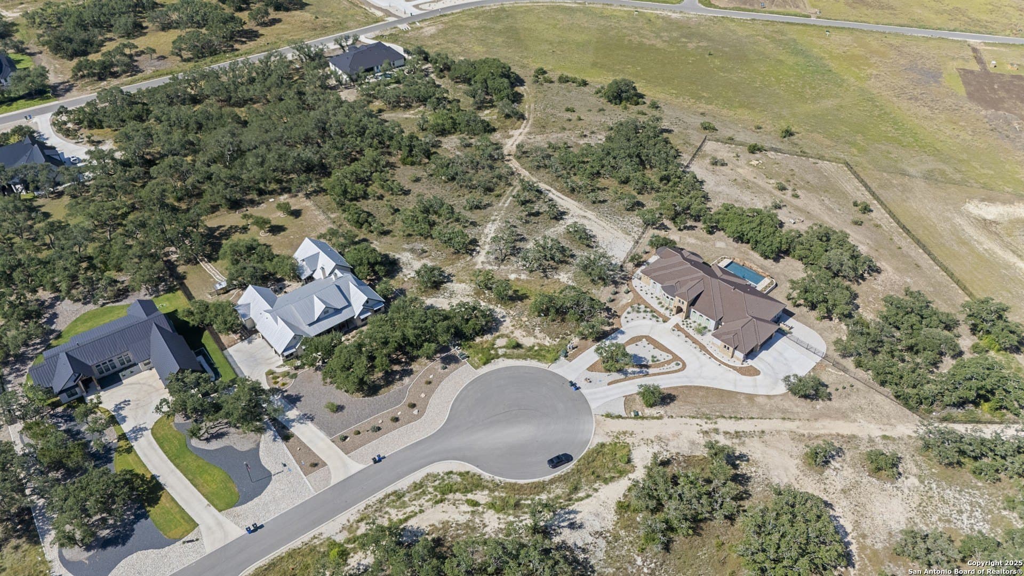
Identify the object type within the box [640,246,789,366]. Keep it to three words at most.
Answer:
house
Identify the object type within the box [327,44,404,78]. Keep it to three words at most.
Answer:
house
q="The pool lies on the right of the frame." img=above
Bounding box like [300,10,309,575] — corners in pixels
[707,254,778,293]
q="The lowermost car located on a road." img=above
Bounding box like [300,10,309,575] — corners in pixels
[547,450,574,468]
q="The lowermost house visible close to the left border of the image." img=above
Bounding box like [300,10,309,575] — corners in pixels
[27,300,203,403]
